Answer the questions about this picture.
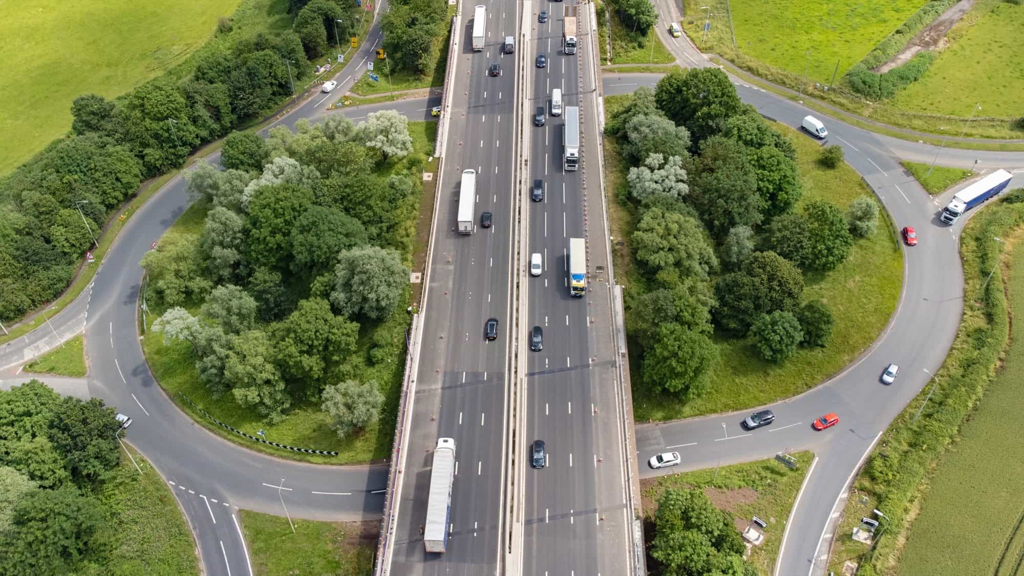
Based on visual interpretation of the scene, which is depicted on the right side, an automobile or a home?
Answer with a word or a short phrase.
automobile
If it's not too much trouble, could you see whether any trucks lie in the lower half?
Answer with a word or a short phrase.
Yes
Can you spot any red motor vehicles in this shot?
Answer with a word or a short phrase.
Yes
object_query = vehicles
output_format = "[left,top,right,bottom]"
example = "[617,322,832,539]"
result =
[550,88,563,114]
[111,410,134,431]
[530,325,544,352]
[568,237,587,297]
[534,107,545,125]
[481,210,493,228]
[880,362,899,385]
[320,80,340,95]
[649,451,683,469]
[564,105,581,170]
[531,180,543,199]
[485,318,499,341]
[490,63,500,76]
[943,172,1007,226]
[457,171,478,236]
[743,408,776,429]
[563,11,577,53]
[530,438,546,470]
[472,6,488,50]
[670,22,681,35]
[903,227,917,244]
[529,250,543,276]
[539,10,548,22]
[504,38,515,53]
[536,53,546,67]
[813,412,840,430]
[801,112,826,138]
[425,437,457,555]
